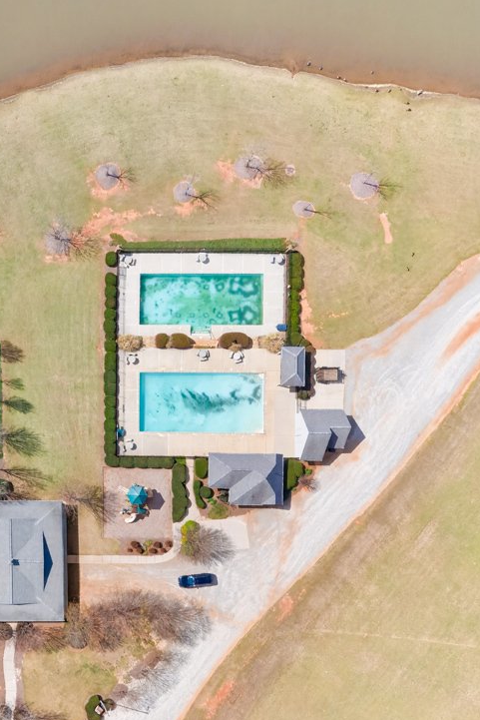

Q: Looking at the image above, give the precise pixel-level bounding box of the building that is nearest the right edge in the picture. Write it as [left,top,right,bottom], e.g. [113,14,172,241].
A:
[294,410,351,461]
